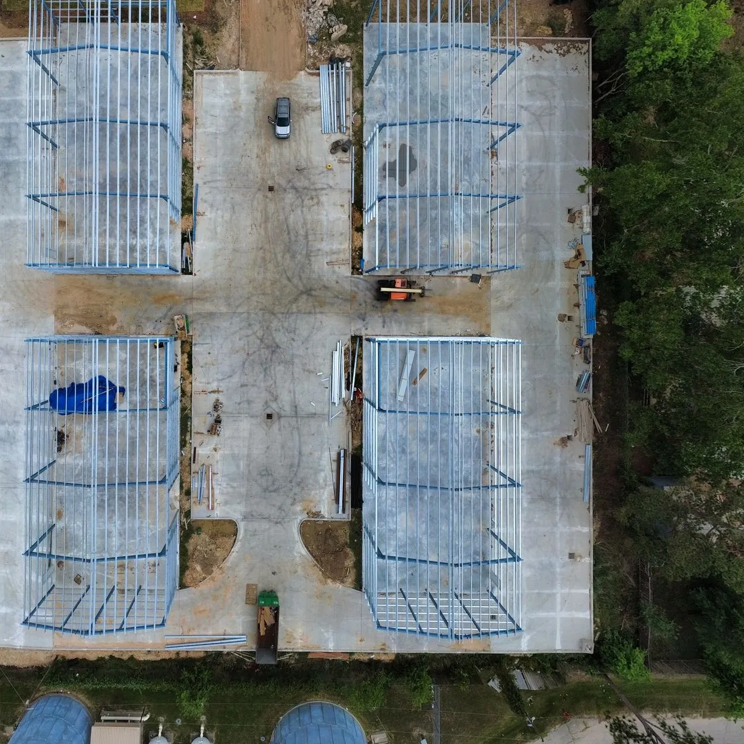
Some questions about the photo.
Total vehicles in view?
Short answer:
2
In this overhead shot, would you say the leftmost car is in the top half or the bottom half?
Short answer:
top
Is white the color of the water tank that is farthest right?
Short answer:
No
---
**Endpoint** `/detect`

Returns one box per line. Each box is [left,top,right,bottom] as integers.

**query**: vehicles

[378,278,429,302]
[264,98,291,139]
